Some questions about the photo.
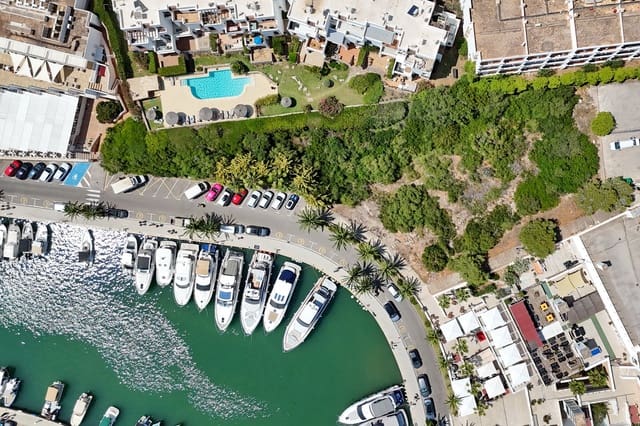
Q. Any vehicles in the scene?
Yes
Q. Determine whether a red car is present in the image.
Yes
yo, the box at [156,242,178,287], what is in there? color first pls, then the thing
white boat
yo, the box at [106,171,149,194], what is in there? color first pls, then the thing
white truck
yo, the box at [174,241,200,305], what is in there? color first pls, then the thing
white boat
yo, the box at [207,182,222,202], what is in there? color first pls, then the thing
pink car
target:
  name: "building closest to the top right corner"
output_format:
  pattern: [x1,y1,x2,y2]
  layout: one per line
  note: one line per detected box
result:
[458,0,640,76]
